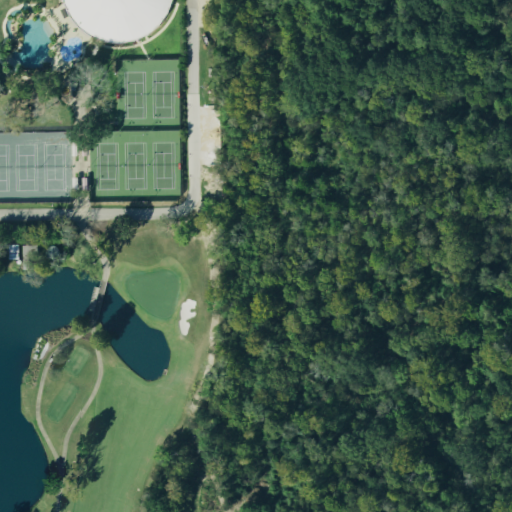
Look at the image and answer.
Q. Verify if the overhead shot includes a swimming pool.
Yes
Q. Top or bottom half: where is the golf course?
bottom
